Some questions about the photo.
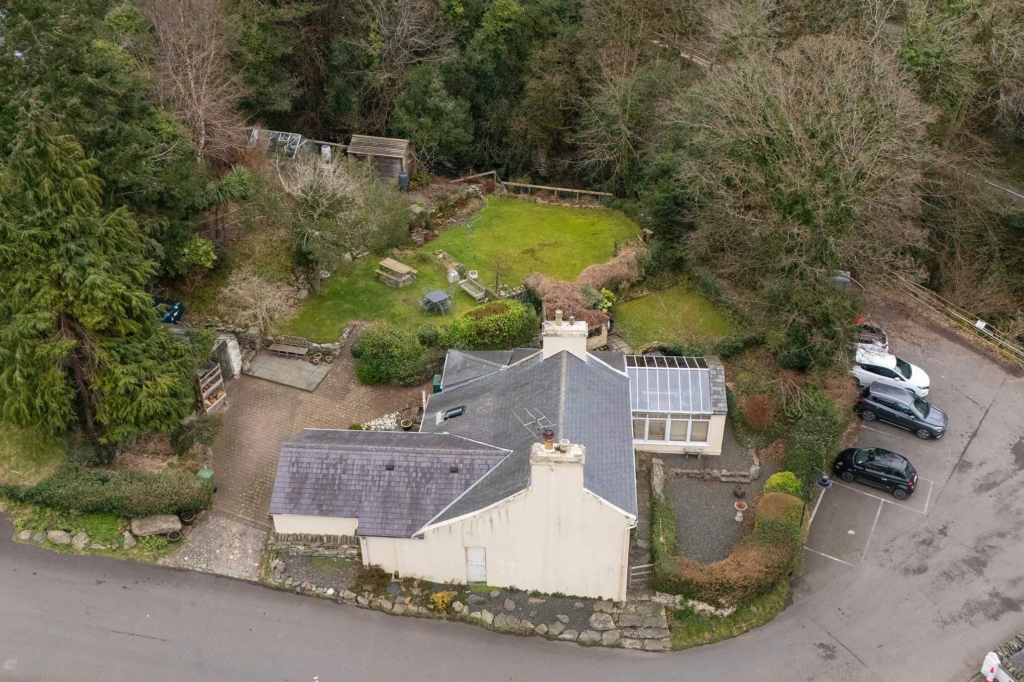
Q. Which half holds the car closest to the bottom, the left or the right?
right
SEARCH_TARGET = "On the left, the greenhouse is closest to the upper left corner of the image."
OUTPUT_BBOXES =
[250,130,313,174]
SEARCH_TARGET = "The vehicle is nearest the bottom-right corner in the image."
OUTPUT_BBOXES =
[839,449,923,503]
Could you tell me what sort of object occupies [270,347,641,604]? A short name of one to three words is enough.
house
